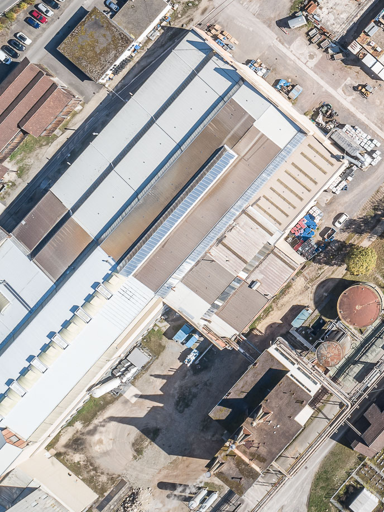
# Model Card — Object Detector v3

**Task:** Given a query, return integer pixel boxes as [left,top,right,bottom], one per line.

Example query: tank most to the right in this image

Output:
[337,281,384,328]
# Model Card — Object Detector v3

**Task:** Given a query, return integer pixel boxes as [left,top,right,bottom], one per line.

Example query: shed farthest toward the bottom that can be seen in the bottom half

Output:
[349,483,381,512]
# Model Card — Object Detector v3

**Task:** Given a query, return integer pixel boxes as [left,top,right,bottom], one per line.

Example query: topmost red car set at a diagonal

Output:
[29,9,49,25]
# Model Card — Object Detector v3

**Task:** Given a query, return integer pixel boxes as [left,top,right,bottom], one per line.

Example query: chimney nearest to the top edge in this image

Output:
[250,400,276,427]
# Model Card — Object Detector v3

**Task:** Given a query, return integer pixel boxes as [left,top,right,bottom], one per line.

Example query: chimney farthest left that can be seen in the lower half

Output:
[204,440,239,478]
